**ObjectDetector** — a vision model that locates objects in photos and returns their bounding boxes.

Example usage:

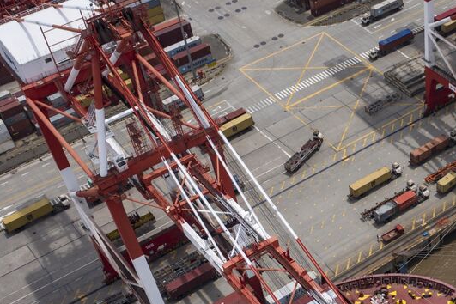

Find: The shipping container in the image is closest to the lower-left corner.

[0,196,52,231]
